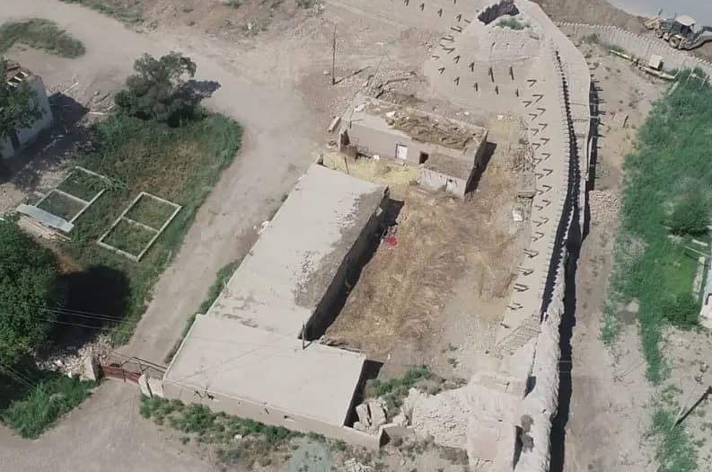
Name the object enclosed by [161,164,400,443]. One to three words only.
house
